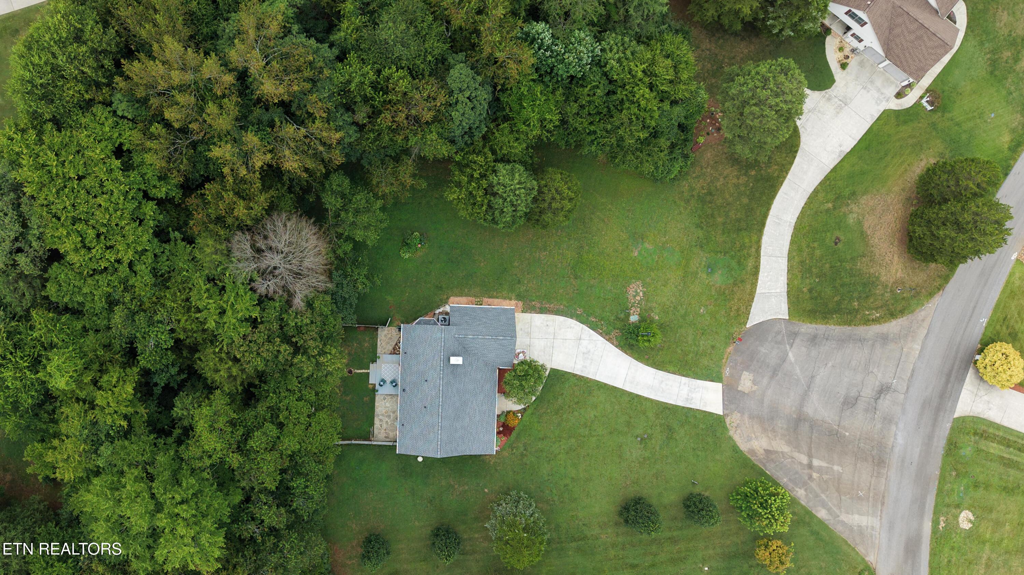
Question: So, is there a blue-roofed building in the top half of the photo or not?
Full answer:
No, there's no blue-roofed building to be seen in the top half of the photo.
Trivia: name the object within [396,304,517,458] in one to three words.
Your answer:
house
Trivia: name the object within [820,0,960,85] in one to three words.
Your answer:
house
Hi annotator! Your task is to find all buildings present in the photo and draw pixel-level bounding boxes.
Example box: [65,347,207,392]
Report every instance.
[820,0,960,85]
[396,304,517,458]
